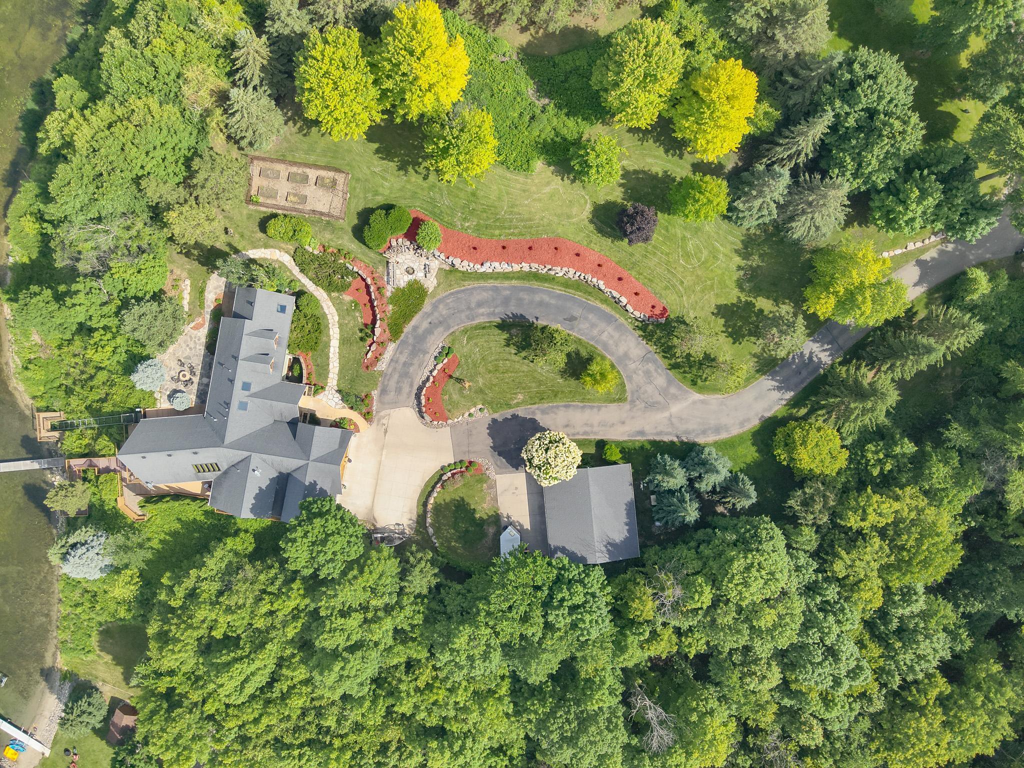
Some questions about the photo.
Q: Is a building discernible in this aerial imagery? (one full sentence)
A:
Yes, a building can be made out from above.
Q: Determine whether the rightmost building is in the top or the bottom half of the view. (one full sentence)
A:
Seen from above, the rightmost building lies in the bottom half of the view.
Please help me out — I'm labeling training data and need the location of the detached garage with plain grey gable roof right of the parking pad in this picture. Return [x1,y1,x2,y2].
[541,463,640,565]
